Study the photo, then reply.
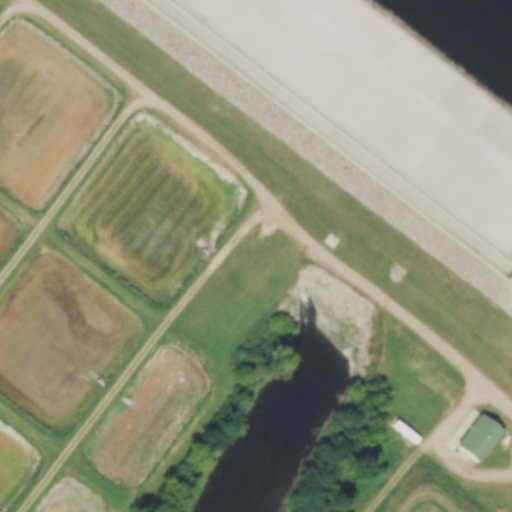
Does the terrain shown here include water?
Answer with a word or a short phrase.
Yes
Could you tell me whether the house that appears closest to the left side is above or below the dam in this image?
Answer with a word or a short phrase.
below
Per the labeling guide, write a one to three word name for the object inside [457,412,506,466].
building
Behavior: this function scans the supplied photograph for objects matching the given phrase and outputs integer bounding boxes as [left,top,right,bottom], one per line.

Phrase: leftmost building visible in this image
[393,420,424,446]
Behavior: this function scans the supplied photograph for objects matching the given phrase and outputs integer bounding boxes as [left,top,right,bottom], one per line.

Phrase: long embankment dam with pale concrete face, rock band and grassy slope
[39,0,512,360]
